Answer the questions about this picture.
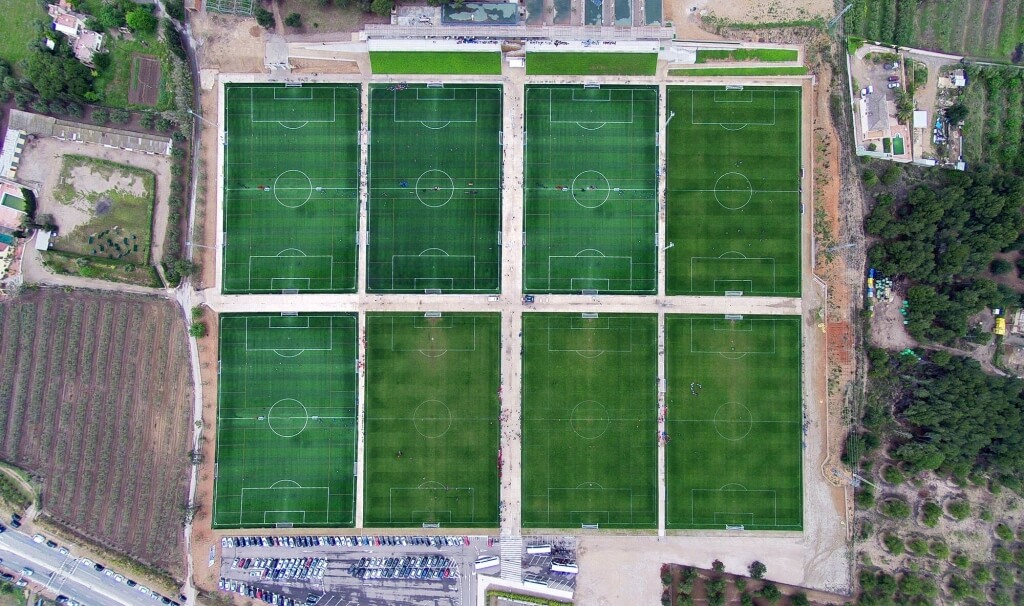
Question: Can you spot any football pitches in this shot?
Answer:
Yes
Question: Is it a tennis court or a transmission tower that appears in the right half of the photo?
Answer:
transmission tower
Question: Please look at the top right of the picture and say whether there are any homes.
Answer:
Yes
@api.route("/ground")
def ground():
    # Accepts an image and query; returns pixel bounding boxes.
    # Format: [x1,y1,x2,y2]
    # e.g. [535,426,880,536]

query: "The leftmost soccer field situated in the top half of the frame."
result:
[222,83,361,293]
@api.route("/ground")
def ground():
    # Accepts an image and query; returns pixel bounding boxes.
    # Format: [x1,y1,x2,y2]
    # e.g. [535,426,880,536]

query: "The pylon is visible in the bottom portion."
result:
[828,465,866,483]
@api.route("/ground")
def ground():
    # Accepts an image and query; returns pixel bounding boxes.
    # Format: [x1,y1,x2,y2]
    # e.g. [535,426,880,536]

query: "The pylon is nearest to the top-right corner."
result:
[824,3,857,31]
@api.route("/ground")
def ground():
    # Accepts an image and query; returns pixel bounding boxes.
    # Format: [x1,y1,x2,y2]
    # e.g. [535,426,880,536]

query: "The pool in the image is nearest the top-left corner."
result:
[1,194,25,211]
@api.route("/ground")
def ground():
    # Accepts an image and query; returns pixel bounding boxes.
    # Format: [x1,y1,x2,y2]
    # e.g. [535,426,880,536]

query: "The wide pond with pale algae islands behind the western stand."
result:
[441,2,519,25]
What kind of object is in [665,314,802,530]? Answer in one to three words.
soccer field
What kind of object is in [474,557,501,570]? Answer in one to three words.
vehicle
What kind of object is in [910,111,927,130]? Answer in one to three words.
building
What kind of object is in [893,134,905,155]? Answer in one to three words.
swimming pool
